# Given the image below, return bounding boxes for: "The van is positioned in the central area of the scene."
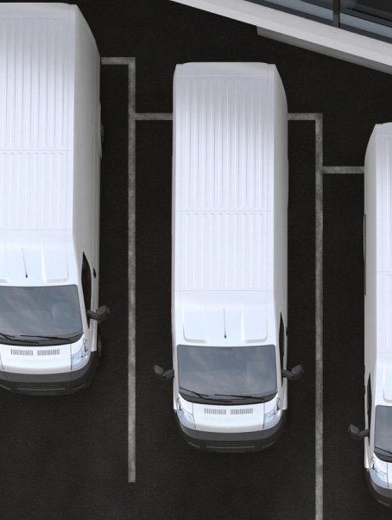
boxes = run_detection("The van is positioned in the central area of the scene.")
[155,61,303,454]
